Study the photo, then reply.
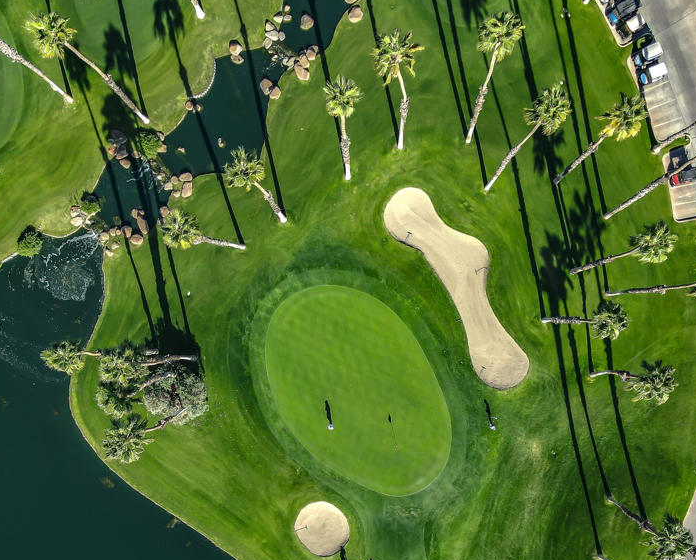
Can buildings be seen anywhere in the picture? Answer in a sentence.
No, there isn't any building down there.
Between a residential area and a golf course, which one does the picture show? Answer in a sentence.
This image shows a golf course.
